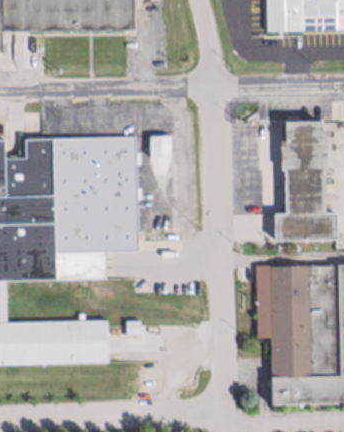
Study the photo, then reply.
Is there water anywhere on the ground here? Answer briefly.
No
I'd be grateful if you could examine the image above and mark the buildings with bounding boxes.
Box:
[0,0,136,34]
[264,0,344,38]
[0,136,142,322]
[274,120,337,242]
[0,312,110,367]
[126,319,142,334]
[150,134,172,158]
[256,264,344,404]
